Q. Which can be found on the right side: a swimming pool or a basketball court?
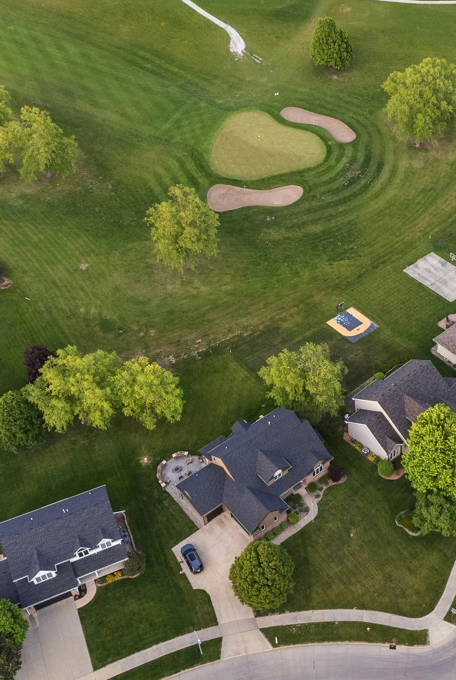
basketball court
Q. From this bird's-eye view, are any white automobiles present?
No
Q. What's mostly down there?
grass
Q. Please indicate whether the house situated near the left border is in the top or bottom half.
bottom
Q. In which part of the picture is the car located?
bottom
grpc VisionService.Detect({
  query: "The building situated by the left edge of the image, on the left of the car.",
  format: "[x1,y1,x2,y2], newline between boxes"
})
[0,485,130,624]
